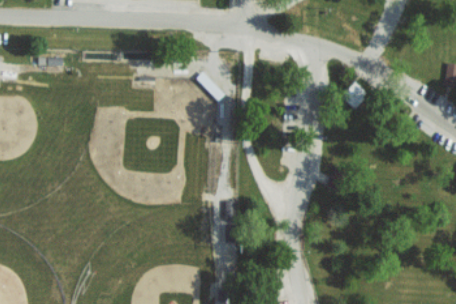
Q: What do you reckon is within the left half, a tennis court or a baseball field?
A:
baseball field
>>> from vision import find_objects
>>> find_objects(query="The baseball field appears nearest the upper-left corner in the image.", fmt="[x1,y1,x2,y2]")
[0,94,38,160]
